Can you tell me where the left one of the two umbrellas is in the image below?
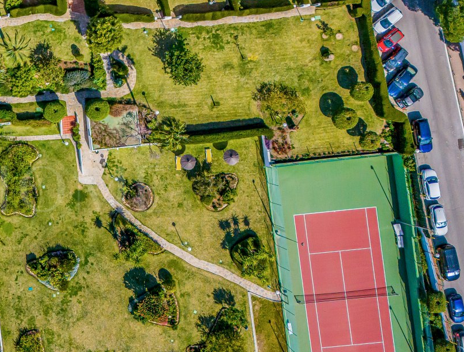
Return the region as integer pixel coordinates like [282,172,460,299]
[180,154,196,170]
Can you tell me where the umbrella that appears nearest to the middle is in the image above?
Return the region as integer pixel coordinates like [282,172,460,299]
[223,149,239,165]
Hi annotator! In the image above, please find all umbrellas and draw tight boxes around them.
[180,154,196,170]
[223,149,239,165]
